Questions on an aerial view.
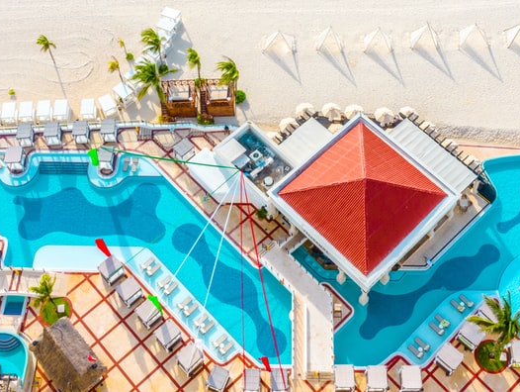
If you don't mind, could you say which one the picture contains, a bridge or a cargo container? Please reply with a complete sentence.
Looking from above, you can make out a bridge.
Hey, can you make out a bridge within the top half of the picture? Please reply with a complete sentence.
No, within the top half of the picture there is no bridge.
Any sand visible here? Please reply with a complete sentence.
Yes, sand can be seen from above here.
